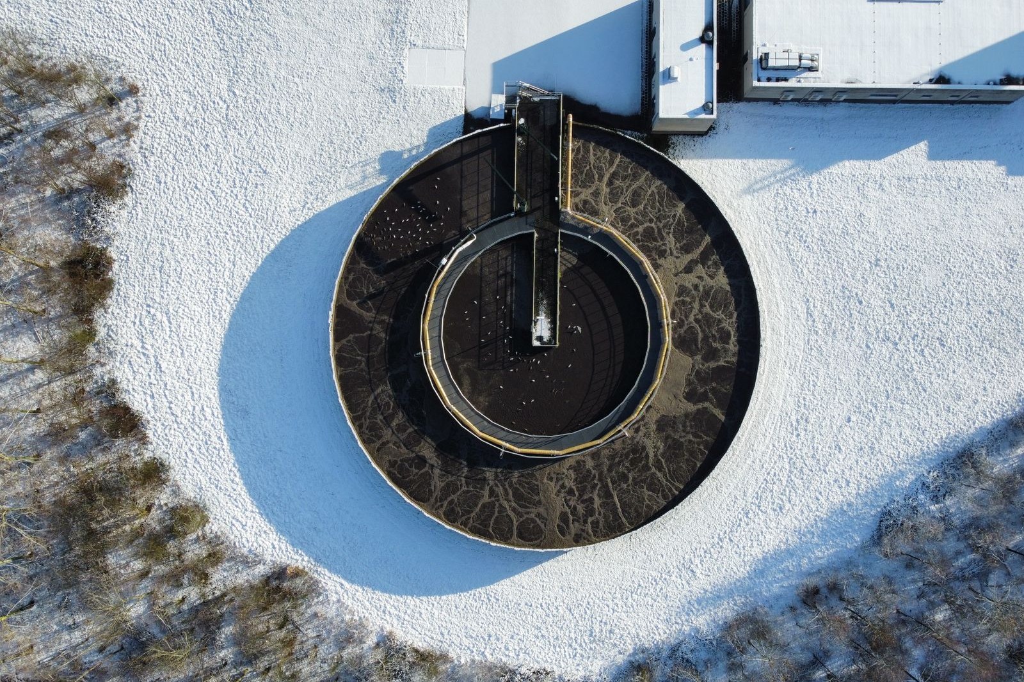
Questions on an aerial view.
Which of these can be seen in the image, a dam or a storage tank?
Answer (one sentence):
Visible in the photo is a storage tank.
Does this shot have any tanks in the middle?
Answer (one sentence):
Yes, a tank shows up in the middle.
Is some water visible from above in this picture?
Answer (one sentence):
Yes, water can be seen from above here.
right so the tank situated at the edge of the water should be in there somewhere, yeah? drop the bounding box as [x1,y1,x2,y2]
[330,121,761,551]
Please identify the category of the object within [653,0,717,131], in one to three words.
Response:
building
